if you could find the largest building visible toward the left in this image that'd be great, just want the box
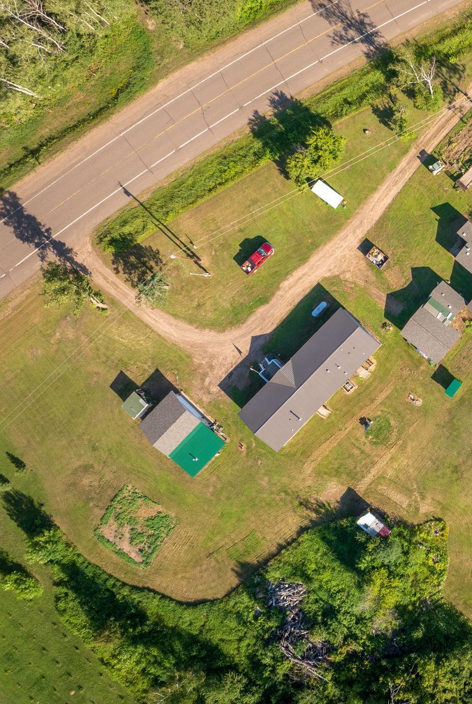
[139,387,229,478]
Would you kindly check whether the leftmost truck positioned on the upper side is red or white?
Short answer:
red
